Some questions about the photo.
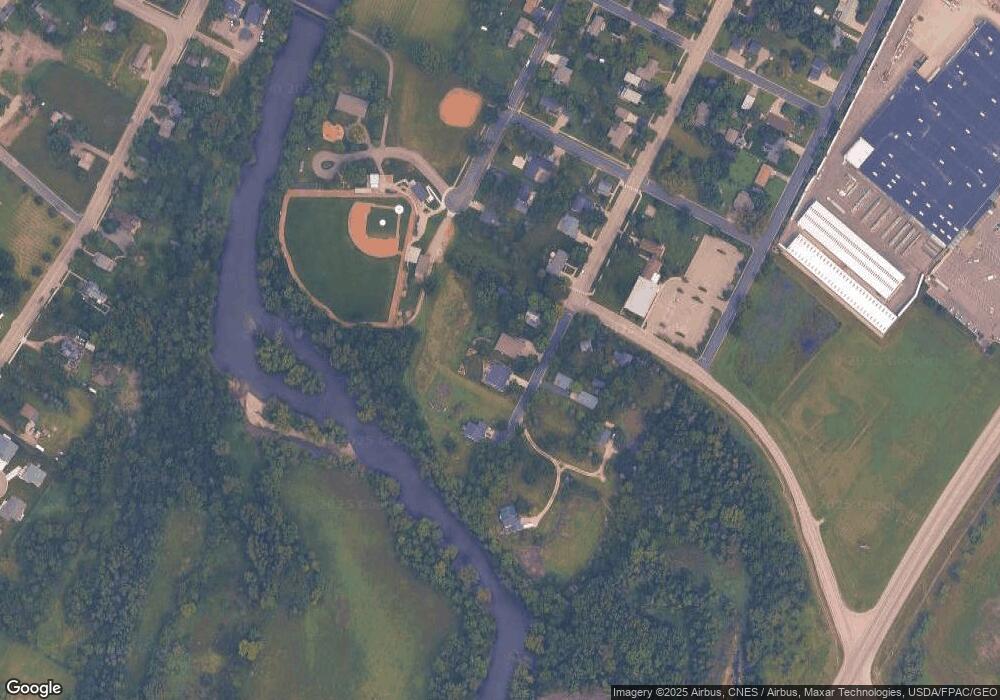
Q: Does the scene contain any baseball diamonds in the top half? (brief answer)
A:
Yes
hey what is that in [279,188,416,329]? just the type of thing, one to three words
baseball field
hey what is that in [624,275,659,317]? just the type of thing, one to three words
building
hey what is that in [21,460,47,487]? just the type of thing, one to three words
house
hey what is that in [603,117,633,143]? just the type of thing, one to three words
house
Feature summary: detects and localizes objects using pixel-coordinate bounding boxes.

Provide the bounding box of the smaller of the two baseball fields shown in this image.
[438,87,482,128]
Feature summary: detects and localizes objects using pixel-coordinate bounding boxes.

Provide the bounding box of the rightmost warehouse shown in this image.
[860,21,1000,246]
